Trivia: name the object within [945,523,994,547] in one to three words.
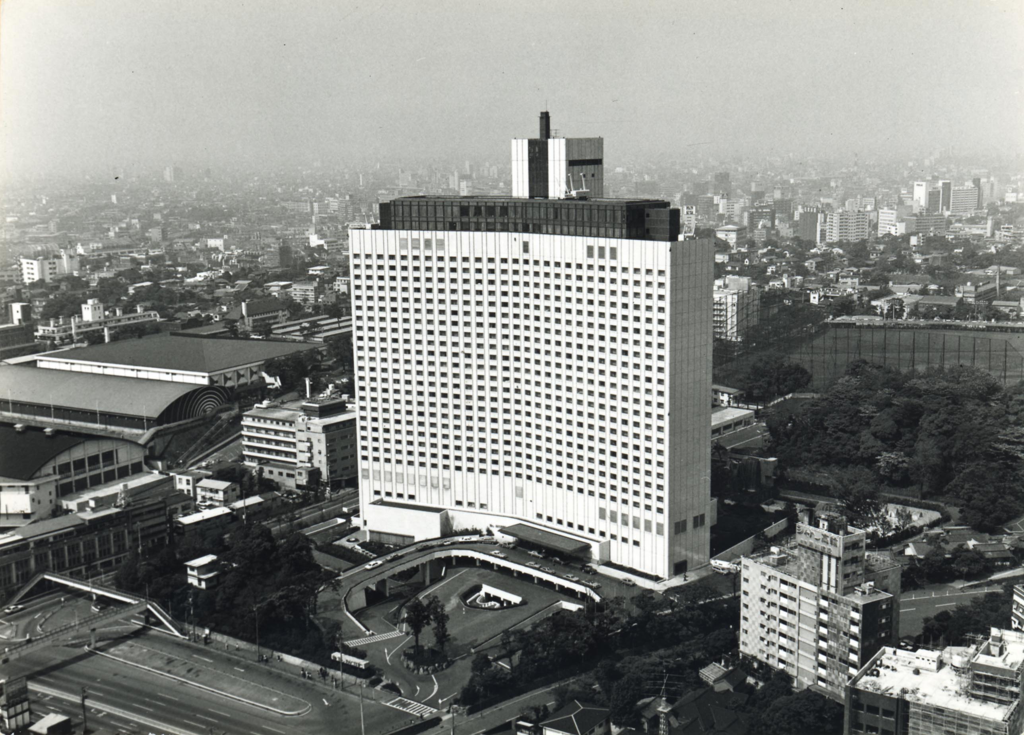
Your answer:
house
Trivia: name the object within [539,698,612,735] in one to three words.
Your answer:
house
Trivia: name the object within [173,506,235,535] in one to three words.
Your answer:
shed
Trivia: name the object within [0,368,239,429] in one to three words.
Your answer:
building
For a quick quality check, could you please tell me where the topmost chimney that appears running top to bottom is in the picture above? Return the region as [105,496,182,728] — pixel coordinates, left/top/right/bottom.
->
[541,102,554,138]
